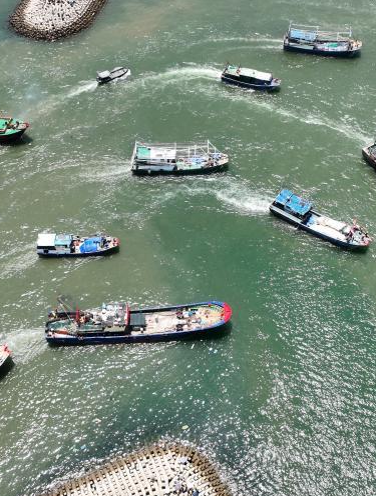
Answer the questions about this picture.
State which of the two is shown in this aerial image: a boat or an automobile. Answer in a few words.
boat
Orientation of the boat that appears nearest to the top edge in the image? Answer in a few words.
horizontally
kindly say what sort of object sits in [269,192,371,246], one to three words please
boat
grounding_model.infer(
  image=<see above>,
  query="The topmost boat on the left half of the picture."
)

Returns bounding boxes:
[96,68,130,83]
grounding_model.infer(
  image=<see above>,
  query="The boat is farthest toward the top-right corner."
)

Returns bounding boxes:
[283,25,361,55]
